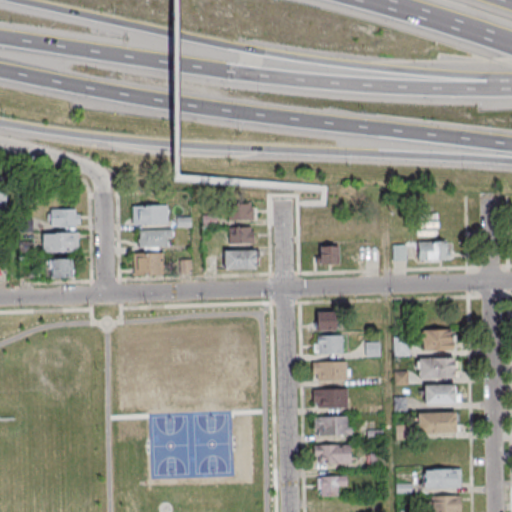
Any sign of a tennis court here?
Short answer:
No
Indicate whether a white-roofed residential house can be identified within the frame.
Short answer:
Yes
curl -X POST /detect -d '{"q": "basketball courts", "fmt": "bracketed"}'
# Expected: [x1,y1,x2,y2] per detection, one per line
[150,412,193,478]
[190,412,234,477]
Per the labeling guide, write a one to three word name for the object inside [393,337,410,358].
building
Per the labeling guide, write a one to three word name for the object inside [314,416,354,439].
house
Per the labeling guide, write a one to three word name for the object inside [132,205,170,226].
house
